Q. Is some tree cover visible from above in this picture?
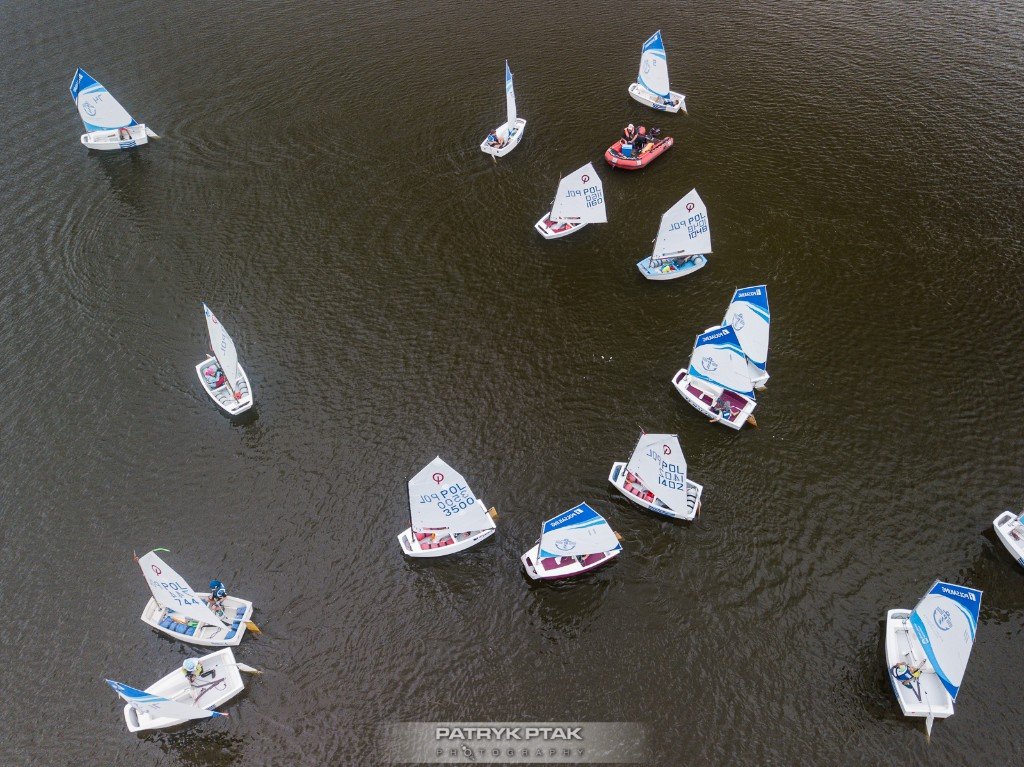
No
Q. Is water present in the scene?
Yes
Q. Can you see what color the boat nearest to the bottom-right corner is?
white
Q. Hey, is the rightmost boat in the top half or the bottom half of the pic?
bottom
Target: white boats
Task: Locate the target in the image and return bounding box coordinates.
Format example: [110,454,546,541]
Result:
[398,455,504,558]
[194,301,252,412]
[673,324,758,430]
[536,160,609,239]
[638,187,715,280]
[707,282,772,398]
[628,29,689,113]
[481,59,527,162]
[106,648,265,733]
[608,431,703,519]
[66,66,159,149]
[995,510,1024,566]
[883,573,985,741]
[132,549,266,646]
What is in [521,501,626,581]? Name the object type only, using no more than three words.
boat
